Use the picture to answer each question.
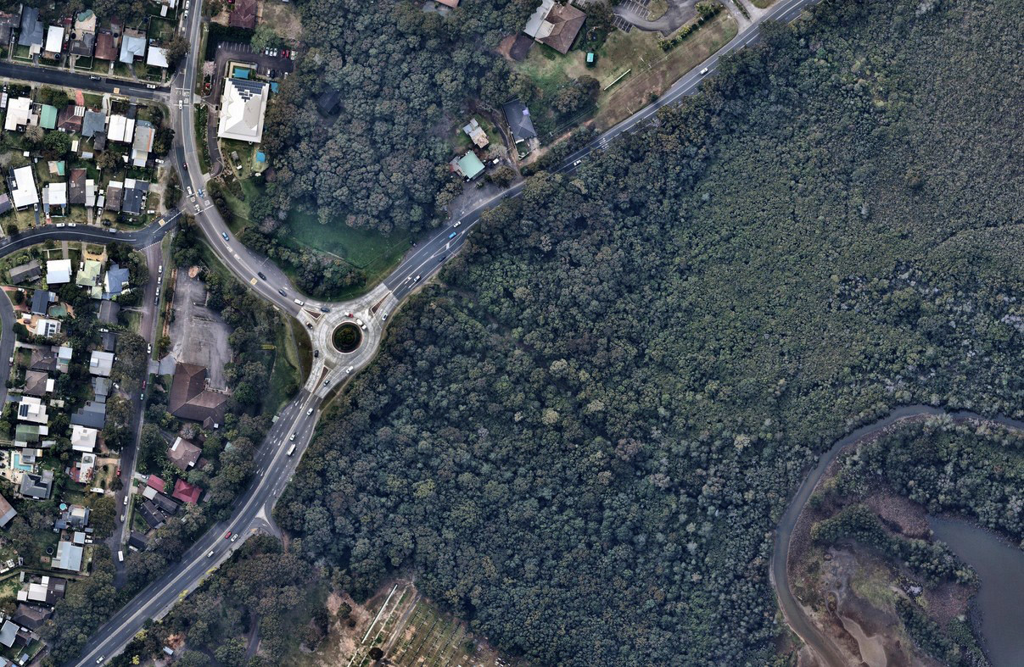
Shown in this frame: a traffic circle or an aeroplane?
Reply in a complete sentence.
This aerial view contains a traffic circle.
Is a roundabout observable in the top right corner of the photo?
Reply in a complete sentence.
No, in the top right corner of the photo there is no roundabout.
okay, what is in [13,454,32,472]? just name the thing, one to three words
swimming pool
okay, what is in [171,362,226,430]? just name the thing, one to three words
building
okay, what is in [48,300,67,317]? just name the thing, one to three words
swimming pool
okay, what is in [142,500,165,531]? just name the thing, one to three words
house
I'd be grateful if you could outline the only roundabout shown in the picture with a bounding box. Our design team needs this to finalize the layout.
[297,283,399,398]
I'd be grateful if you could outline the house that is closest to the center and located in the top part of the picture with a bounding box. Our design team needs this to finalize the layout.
[451,150,485,178]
